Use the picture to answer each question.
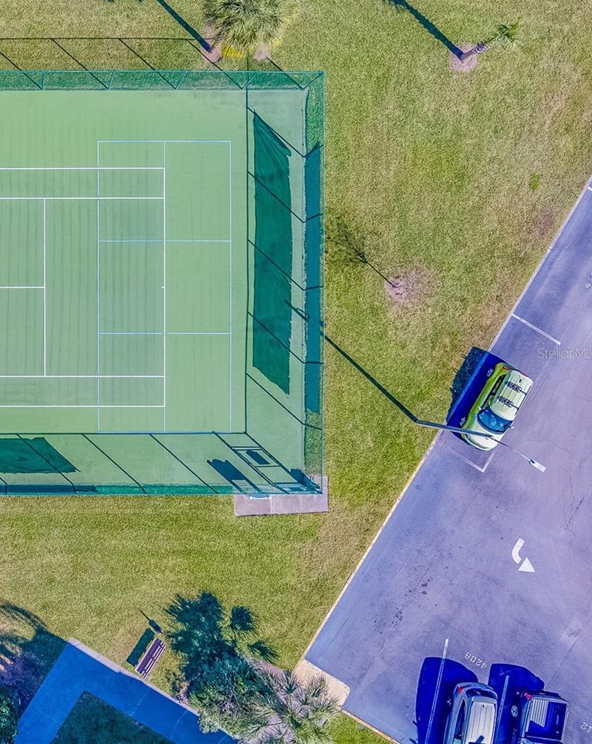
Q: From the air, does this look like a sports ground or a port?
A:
sports ground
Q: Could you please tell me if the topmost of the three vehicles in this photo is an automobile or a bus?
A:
automobile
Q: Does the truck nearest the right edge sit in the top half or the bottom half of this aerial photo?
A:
bottom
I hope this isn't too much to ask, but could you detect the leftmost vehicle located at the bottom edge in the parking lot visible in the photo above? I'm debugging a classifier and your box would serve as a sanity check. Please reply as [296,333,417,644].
[441,681,503,744]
